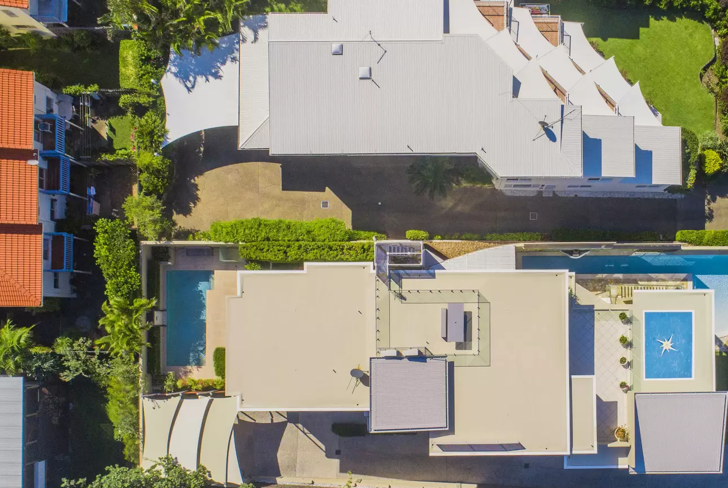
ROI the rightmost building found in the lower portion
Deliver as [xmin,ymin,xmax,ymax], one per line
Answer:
[633,291,714,388]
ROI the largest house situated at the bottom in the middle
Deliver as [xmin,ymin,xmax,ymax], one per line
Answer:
[227,262,569,455]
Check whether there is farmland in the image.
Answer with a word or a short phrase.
No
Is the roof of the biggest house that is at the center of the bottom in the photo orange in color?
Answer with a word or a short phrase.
No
